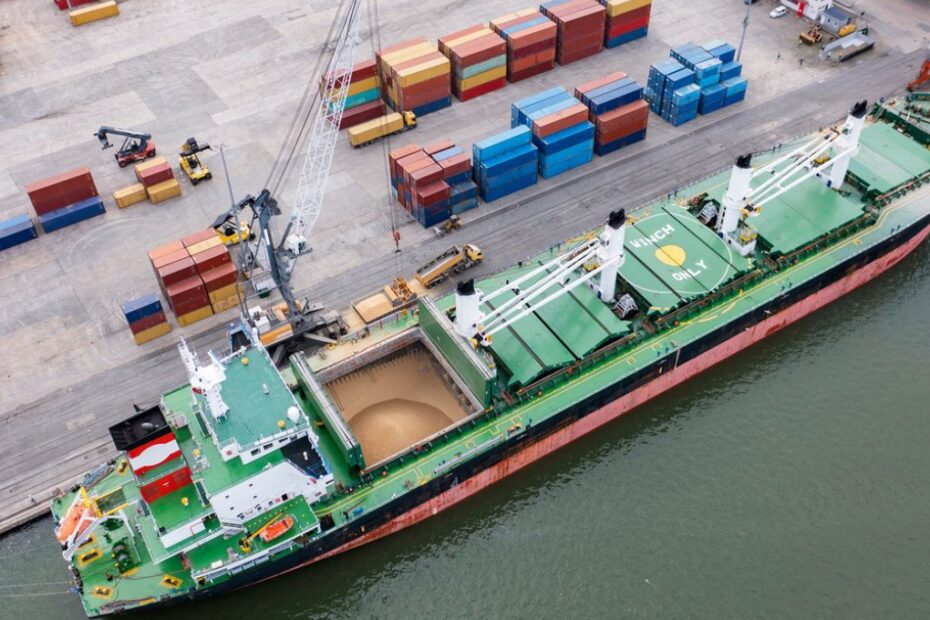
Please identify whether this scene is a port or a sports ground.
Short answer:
port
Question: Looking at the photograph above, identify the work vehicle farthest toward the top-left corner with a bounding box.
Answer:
[91,129,156,167]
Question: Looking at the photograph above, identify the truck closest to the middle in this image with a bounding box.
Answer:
[414,248,484,291]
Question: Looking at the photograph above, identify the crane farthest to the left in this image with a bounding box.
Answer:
[234,0,403,369]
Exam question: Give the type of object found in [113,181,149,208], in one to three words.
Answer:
shipping container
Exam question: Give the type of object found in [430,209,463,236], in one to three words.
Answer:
work vehicle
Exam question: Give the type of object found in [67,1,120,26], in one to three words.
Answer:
shipping container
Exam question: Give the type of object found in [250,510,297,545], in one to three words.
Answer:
boat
